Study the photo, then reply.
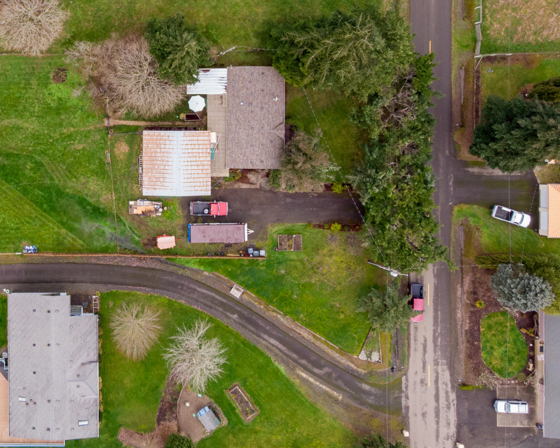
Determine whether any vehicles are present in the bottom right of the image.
Yes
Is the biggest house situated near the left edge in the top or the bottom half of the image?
bottom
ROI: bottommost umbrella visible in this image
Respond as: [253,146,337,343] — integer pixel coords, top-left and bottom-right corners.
[190,95,207,112]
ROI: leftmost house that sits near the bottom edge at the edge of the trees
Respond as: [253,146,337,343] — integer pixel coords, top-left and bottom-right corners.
[7,292,99,441]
